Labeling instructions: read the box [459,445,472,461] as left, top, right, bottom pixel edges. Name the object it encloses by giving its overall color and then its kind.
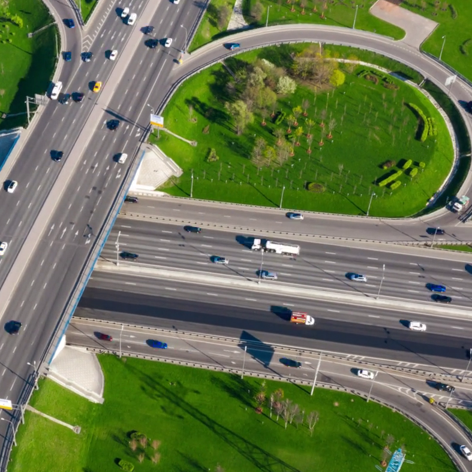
white vehicle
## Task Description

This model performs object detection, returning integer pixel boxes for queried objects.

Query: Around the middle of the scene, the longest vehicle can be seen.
[249,239,300,257]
